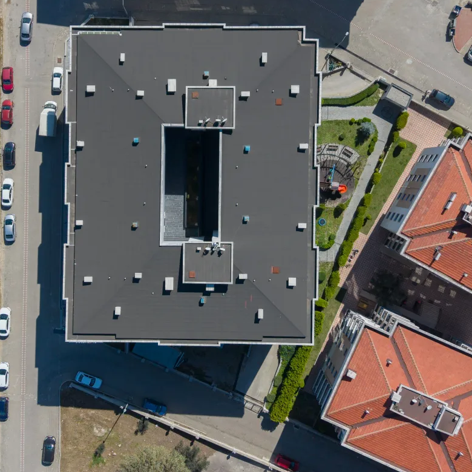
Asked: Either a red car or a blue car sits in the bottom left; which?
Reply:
blue car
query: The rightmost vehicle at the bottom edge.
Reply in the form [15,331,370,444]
[272,454,297,471]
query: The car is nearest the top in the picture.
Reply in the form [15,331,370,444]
[19,12,34,42]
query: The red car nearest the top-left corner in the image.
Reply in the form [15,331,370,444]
[1,67,14,91]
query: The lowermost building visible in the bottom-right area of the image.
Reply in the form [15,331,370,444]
[309,304,472,472]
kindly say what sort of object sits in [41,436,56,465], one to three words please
car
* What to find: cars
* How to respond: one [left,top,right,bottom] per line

[3,142,16,167]
[424,87,454,109]
[41,436,56,465]
[272,454,297,471]
[0,307,11,337]
[51,67,64,93]
[75,371,102,388]
[3,214,17,242]
[143,399,167,414]
[1,67,14,91]
[0,362,10,389]
[19,12,34,42]
[1,100,14,124]
[2,179,15,206]
[0,396,10,421]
